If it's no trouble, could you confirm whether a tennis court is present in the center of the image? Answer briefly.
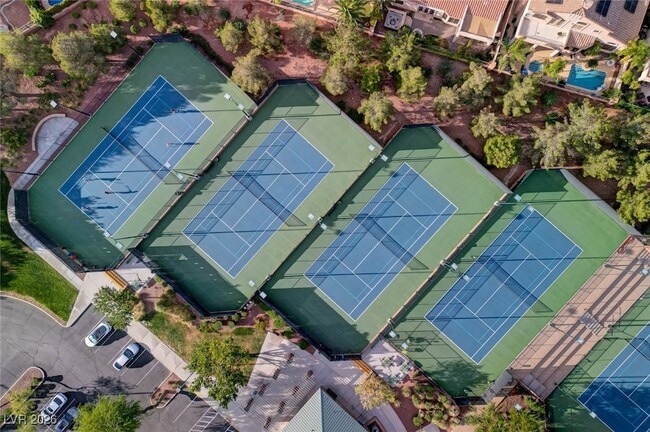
Yes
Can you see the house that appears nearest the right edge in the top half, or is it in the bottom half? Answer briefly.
top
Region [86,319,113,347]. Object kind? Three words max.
car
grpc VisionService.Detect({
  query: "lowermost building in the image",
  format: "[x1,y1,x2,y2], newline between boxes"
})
[280,386,374,432]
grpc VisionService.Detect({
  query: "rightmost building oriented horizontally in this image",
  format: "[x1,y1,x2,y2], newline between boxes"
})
[506,0,650,68]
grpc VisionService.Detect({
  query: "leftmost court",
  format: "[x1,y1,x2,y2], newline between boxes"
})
[28,42,257,270]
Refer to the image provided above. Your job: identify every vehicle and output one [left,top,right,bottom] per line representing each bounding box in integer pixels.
[113,341,142,370]
[51,400,83,432]
[86,319,113,347]
[39,389,69,420]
